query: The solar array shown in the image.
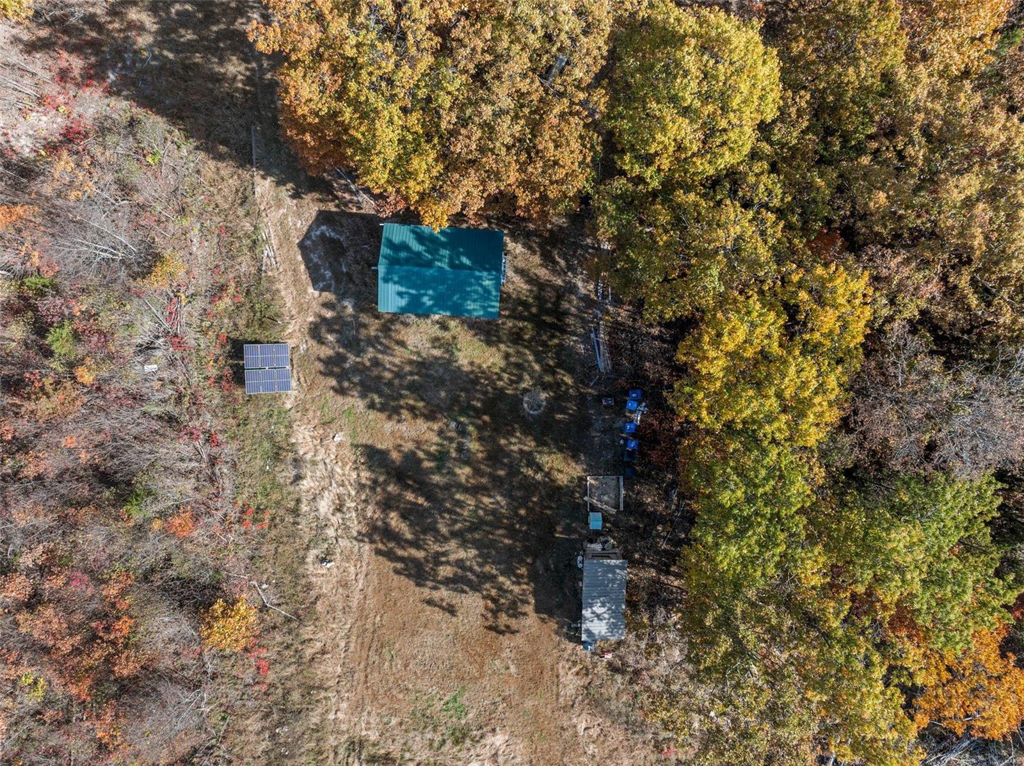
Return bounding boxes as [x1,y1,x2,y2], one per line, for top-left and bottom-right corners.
[243,344,292,393]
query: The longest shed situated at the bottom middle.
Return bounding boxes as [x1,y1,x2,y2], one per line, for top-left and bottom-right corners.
[580,553,628,642]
